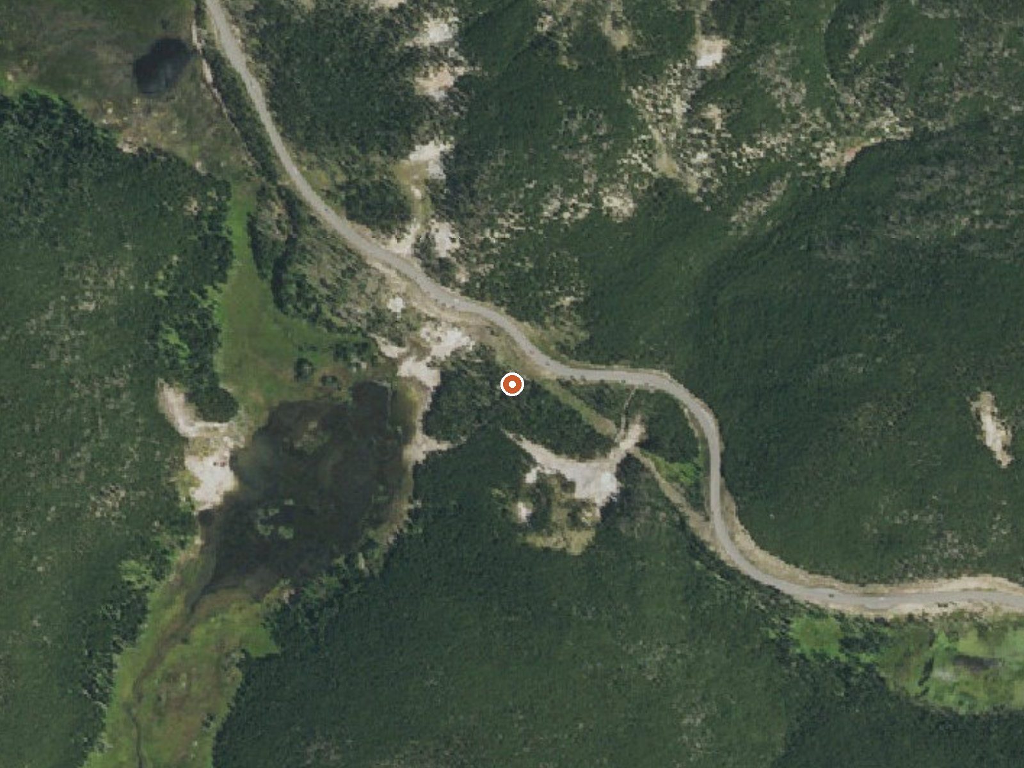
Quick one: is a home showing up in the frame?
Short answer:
No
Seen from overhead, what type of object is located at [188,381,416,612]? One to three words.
pond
